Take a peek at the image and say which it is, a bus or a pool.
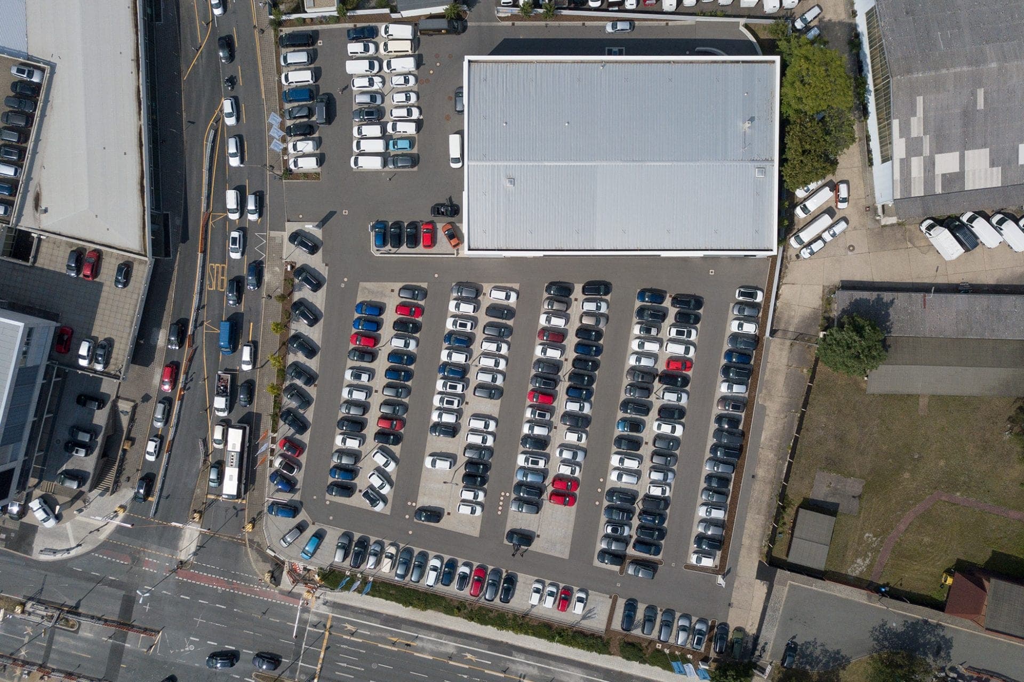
bus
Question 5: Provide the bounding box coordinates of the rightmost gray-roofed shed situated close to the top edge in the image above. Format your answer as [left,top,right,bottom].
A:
[853,0,1024,220]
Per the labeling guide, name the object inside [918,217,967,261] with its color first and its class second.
white truck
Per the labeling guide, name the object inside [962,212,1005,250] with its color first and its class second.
white van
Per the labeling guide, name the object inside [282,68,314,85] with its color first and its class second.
white vehicle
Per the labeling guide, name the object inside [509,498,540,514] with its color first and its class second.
gray car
